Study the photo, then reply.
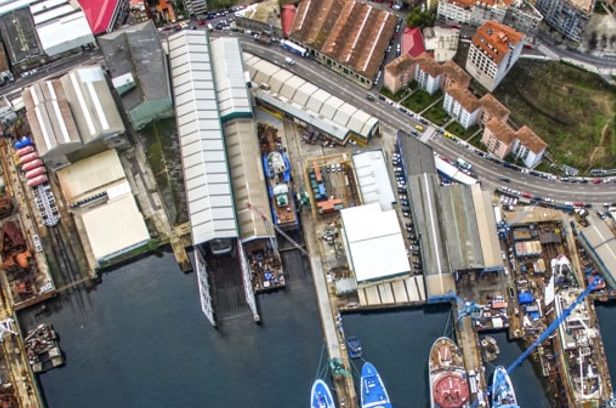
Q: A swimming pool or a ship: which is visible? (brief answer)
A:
ship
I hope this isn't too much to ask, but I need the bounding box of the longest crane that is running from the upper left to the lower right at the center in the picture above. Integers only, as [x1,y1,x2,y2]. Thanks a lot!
[238,194,308,255]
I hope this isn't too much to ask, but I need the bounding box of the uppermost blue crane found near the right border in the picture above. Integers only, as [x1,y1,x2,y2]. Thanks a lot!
[502,270,610,376]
